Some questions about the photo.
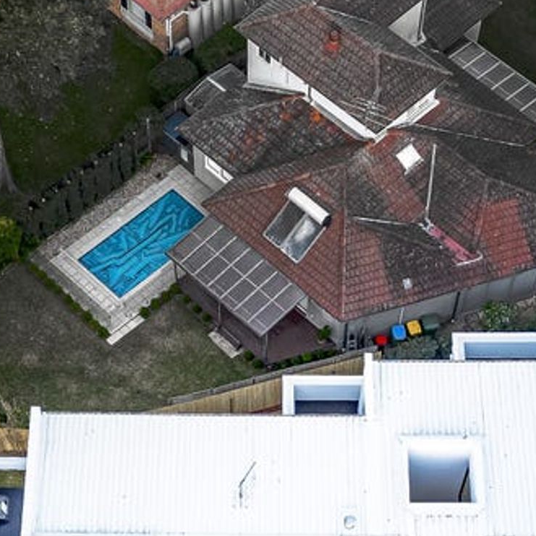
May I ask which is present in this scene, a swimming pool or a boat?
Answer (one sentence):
Of the two, only a swimming pool appears.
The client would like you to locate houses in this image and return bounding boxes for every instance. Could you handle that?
[177,0,536,342]
[20,332,536,536]
[96,0,220,59]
